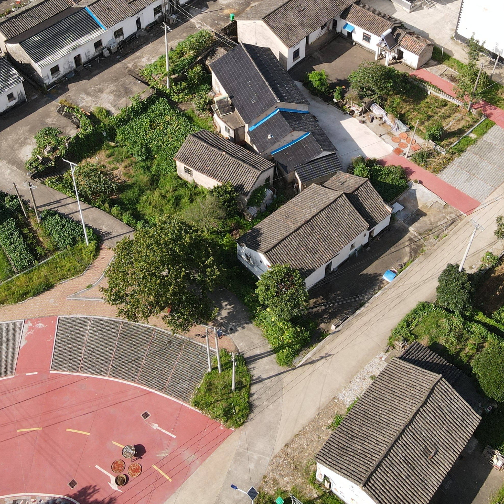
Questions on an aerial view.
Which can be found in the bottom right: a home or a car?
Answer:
home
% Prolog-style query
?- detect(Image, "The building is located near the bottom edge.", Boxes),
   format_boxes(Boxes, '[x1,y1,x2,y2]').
[315,359,482,504]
